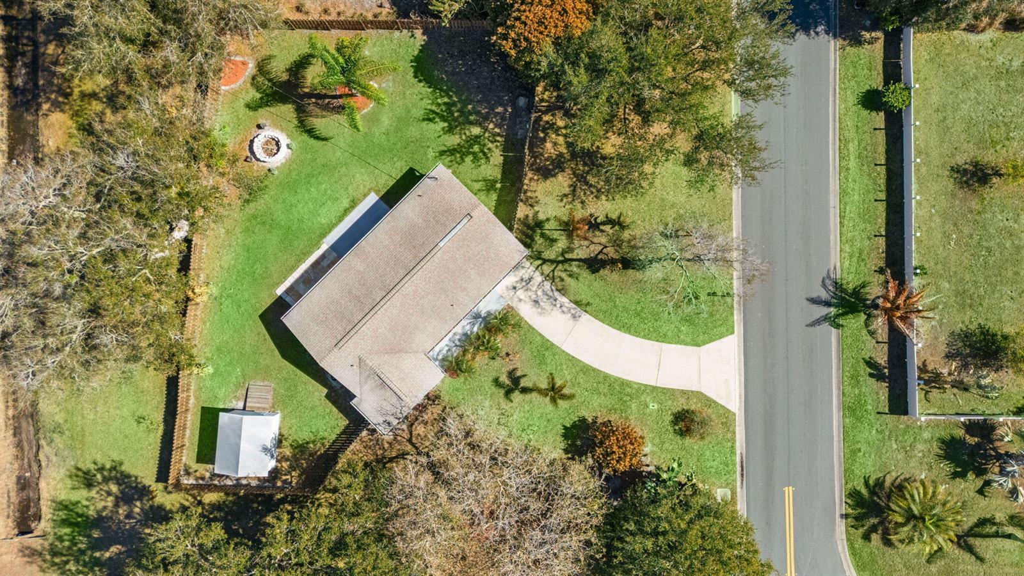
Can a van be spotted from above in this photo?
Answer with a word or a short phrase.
No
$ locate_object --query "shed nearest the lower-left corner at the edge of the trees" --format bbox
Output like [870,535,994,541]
[214,409,281,477]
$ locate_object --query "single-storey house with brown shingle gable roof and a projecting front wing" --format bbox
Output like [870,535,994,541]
[280,162,530,435]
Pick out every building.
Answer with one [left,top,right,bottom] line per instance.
[280,162,530,435]
[214,409,281,477]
